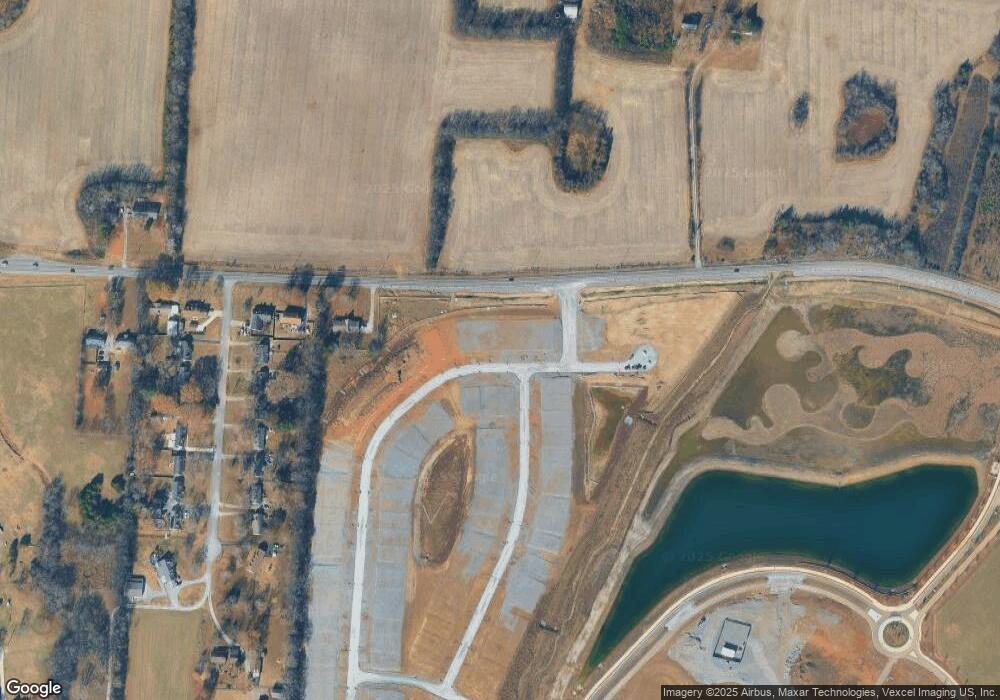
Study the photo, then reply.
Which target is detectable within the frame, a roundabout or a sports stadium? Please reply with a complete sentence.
The one in the frame is a roundabout.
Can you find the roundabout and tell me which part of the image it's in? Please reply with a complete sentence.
The roundabout is in the bottom right part of the image.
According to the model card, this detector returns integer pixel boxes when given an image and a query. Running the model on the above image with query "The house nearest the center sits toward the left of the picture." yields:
[333,318,361,333]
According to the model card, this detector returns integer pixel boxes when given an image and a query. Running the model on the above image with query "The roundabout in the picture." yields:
[868,609,920,657]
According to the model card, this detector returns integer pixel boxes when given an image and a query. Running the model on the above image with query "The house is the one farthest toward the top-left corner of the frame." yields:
[132,204,159,221]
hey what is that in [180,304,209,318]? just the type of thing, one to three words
house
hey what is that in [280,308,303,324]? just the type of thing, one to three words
house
